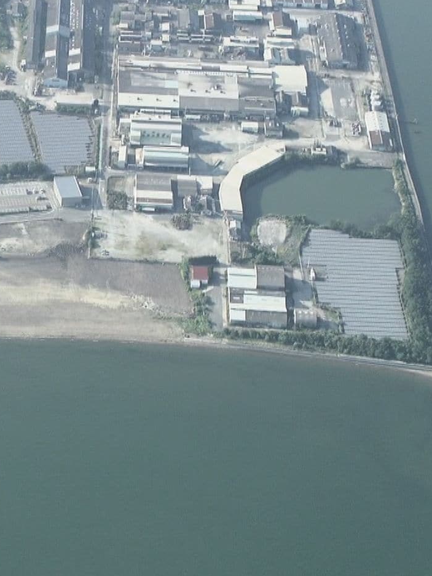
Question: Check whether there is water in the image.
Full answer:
Yes, water shows up in the scene.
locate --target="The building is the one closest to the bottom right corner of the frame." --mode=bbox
[294,309,317,329]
